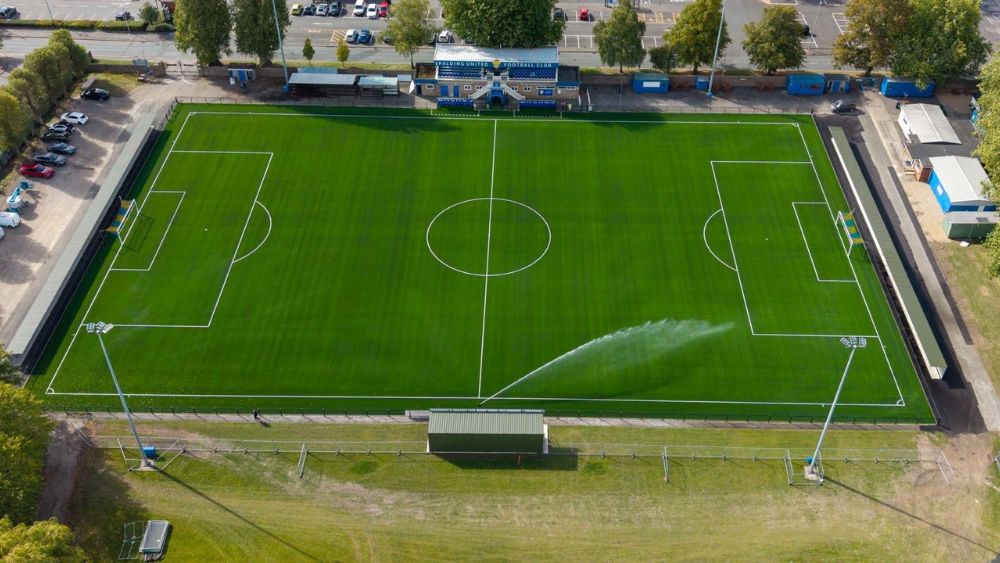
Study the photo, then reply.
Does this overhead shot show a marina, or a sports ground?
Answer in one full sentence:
The picture captures a sports ground.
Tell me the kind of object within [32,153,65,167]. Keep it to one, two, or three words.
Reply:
vehicle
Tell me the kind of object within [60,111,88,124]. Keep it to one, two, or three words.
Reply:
vehicle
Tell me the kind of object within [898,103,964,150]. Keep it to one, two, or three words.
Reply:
building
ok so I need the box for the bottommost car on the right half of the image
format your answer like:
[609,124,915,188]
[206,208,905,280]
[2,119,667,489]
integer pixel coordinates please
[830,100,857,113]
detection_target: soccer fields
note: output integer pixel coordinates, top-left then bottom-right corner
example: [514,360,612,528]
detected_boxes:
[20,104,938,423]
